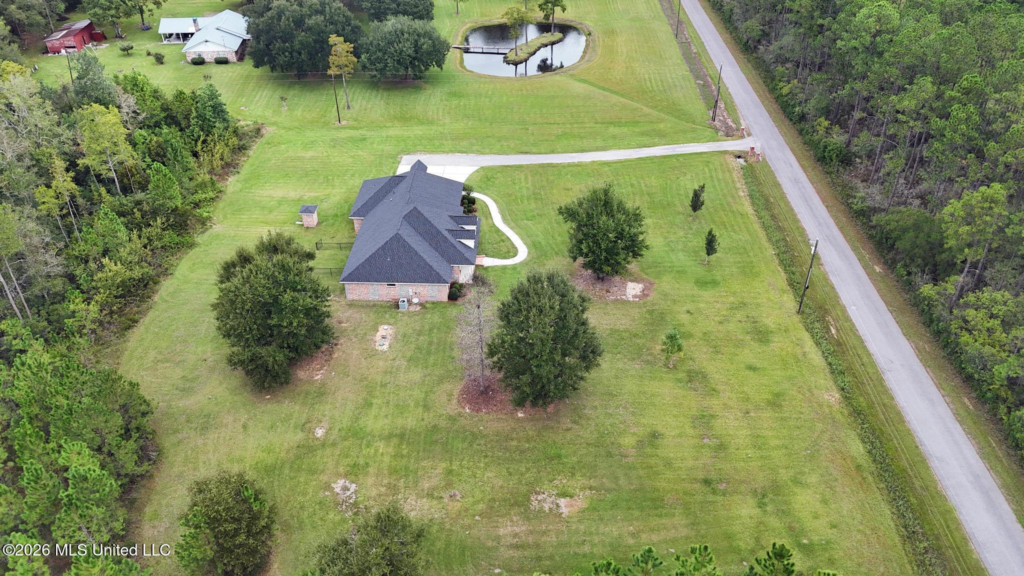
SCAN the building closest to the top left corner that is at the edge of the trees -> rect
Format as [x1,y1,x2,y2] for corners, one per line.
[41,22,89,53]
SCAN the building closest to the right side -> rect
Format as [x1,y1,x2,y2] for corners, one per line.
[339,158,485,299]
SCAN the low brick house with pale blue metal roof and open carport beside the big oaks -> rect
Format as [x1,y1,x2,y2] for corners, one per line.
[153,10,246,63]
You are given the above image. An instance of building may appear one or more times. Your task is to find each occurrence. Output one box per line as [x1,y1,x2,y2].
[298,205,319,227]
[153,10,246,63]
[41,22,89,53]
[339,158,485,299]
